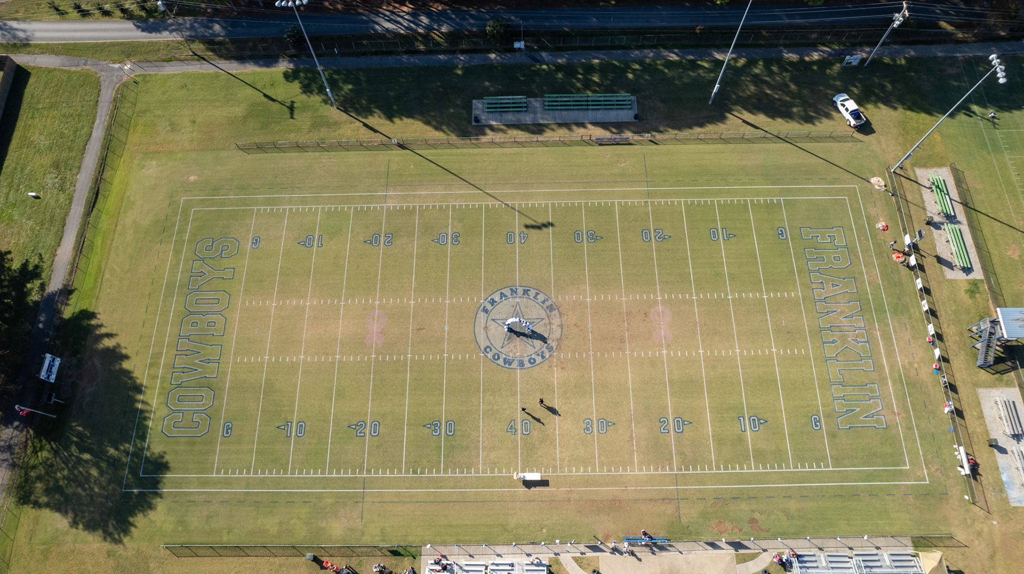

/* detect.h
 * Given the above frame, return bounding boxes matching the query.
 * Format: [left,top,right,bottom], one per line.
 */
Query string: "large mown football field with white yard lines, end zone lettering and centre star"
[71,144,978,547]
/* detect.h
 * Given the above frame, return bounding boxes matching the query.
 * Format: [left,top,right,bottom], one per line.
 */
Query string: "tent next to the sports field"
[915,549,949,574]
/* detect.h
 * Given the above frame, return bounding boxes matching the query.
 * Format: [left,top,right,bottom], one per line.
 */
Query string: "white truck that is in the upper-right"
[833,93,867,129]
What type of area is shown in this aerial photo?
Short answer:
sports ground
